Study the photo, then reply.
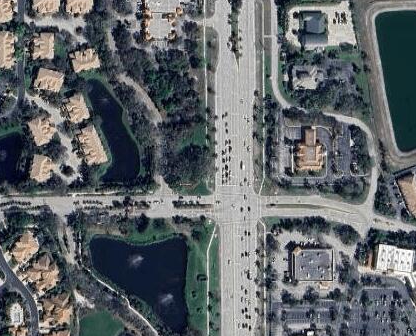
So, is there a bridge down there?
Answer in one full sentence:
No, there's no bridge here.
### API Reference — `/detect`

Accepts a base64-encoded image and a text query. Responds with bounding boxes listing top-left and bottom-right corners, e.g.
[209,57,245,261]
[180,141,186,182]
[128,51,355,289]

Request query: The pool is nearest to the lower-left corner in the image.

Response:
[10,303,23,325]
